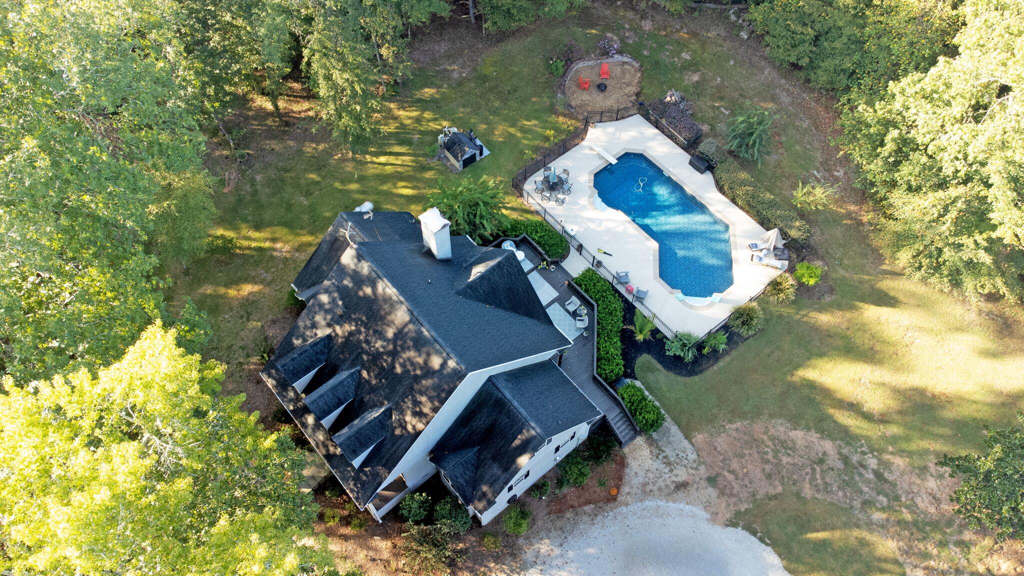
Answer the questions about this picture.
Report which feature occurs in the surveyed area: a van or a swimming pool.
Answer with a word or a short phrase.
swimming pool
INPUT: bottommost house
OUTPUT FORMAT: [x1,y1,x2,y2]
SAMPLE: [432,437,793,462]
[260,208,606,528]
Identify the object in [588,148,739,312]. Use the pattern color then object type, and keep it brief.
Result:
blue swimming pool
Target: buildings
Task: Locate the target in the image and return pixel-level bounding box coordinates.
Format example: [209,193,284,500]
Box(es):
[260,208,606,528]
[441,130,481,170]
